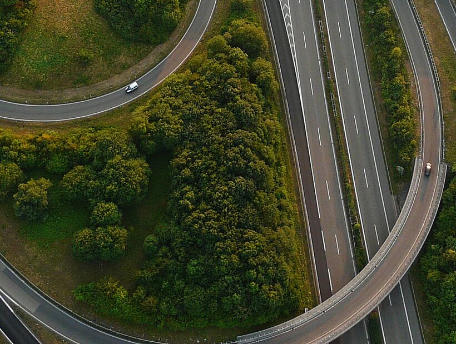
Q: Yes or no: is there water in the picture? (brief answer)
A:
No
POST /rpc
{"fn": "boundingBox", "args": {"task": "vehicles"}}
[125,80,139,92]
[423,163,431,176]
